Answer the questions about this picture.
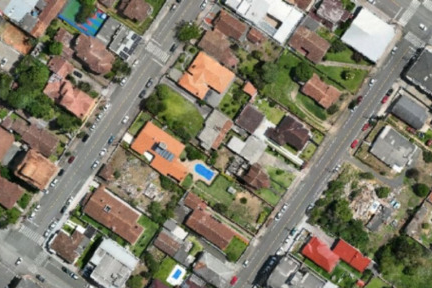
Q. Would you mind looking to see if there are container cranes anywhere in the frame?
No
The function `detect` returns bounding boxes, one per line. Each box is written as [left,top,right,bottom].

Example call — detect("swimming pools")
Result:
[194,163,214,181]
[171,268,183,280]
